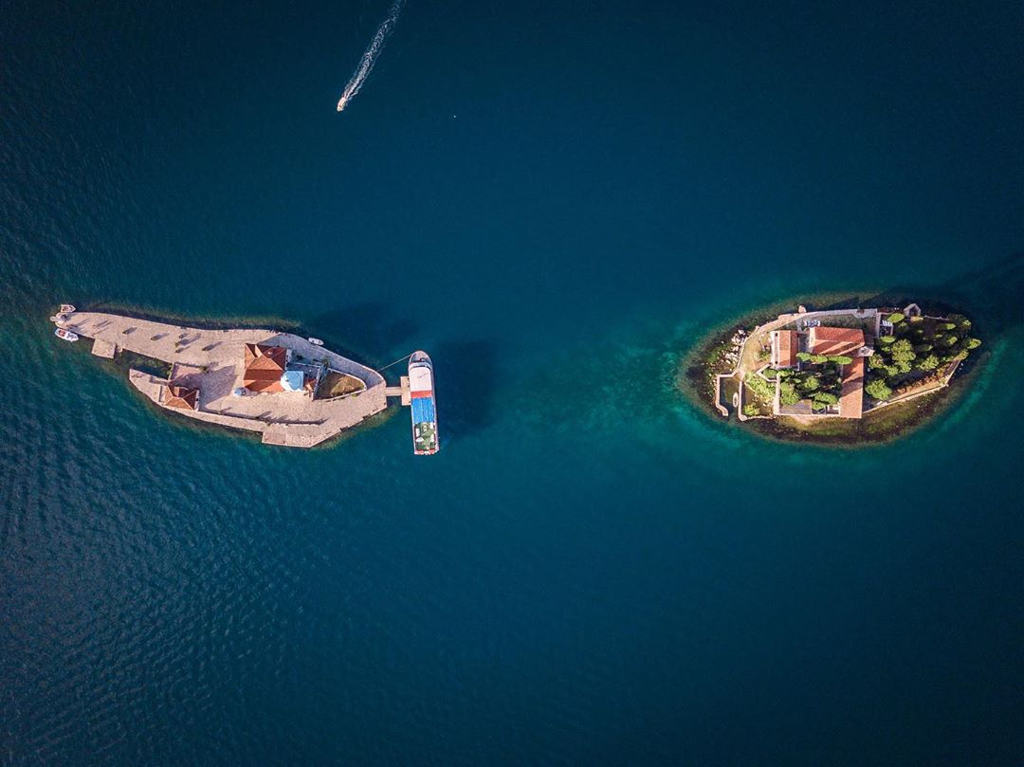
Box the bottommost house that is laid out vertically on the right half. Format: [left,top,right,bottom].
[837,357,863,418]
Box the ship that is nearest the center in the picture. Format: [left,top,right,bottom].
[409,351,439,456]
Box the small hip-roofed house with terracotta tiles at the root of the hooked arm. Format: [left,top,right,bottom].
[164,384,200,410]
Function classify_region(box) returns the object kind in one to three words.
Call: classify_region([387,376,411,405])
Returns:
pier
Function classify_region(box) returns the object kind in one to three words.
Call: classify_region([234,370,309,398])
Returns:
building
